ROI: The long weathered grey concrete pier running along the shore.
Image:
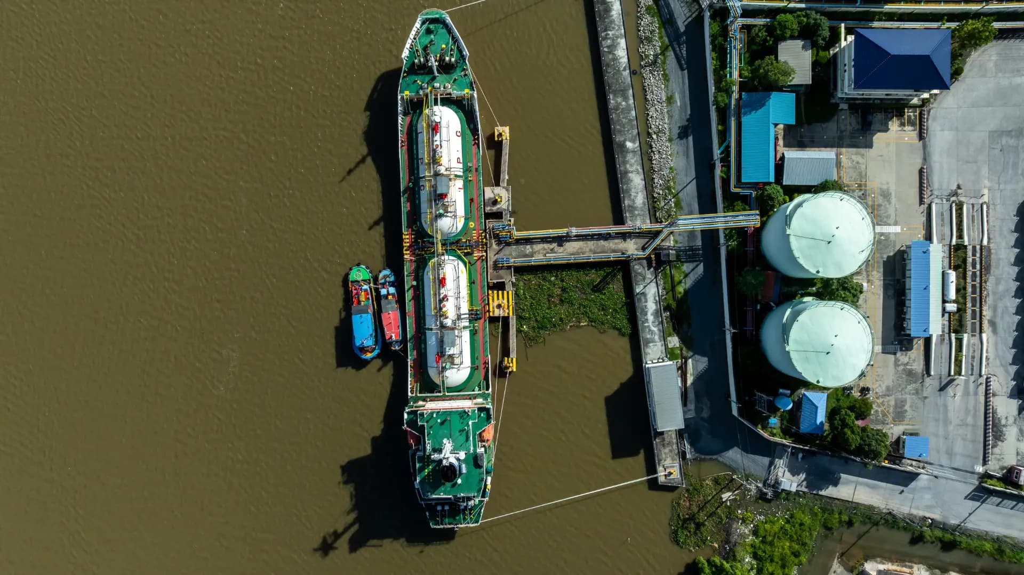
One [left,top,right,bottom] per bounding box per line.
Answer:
[593,0,685,487]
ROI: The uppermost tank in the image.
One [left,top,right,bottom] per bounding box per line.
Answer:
[761,187,878,278]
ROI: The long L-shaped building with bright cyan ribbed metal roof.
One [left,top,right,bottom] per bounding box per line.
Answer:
[739,92,795,182]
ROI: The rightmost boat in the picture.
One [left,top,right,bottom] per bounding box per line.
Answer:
[480,425,492,447]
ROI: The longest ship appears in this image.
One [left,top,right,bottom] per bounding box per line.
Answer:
[397,7,493,530]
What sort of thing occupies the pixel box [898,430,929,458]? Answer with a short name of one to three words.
shed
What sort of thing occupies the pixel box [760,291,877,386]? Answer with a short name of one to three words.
storage tank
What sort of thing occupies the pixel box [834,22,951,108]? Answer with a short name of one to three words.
building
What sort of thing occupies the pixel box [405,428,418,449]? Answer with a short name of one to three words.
boat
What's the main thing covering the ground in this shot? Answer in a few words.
water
